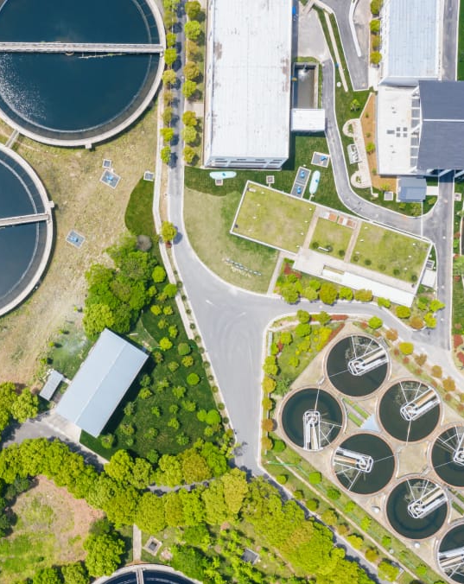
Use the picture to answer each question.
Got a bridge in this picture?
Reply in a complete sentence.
Yes, I can see a bridge in this picture.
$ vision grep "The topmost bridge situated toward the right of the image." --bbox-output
[350,336,394,376]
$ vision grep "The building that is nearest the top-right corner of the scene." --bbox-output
[376,0,441,85]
